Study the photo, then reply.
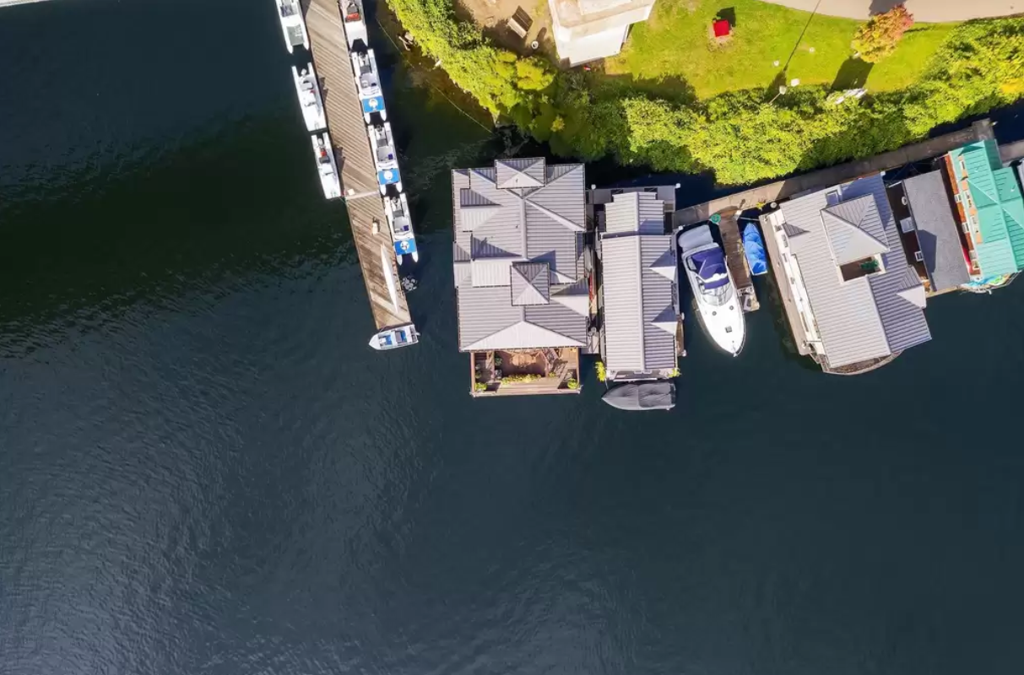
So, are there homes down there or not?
Yes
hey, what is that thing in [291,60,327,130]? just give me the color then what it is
white boat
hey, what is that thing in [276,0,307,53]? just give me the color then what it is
white boat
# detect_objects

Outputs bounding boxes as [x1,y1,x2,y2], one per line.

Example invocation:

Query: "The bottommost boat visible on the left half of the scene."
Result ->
[368,325,421,348]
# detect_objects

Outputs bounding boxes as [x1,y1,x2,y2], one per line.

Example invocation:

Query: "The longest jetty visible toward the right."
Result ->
[718,213,759,310]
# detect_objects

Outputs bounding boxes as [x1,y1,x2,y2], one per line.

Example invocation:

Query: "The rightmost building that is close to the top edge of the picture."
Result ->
[547,0,665,68]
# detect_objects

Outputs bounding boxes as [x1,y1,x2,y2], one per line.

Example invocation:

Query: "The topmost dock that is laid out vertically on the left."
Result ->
[298,0,414,332]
